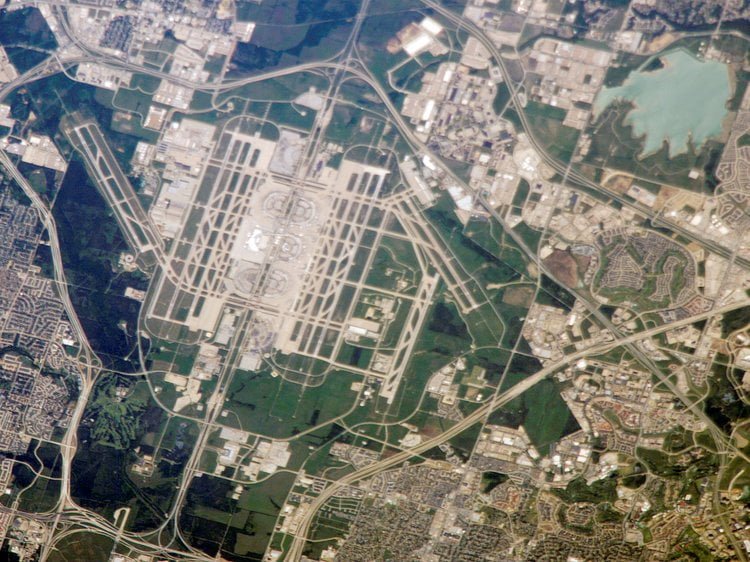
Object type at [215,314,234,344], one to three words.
hangar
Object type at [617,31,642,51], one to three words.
building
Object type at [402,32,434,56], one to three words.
building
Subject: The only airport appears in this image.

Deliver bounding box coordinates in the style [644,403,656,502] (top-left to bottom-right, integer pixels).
[74,122,488,404]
